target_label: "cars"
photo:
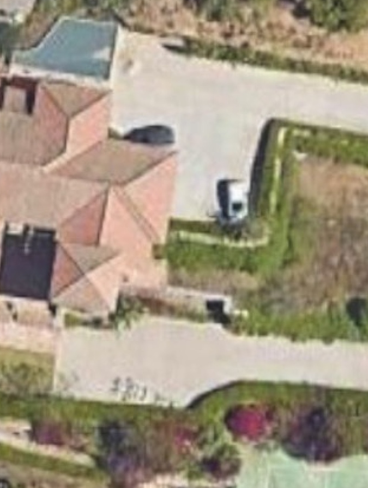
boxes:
[229,179,248,224]
[129,125,177,146]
